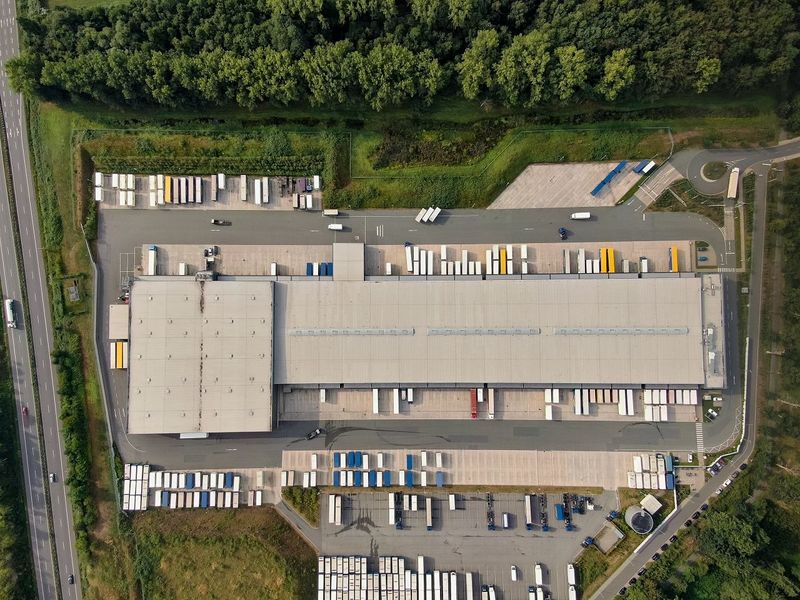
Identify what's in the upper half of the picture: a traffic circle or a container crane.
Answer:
traffic circle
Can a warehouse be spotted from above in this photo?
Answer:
Yes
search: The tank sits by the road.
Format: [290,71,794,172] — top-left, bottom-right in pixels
[623,505,654,534]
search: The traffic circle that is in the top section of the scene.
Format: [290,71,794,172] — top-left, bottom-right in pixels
[690,147,739,195]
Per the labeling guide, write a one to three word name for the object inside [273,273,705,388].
warehouse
